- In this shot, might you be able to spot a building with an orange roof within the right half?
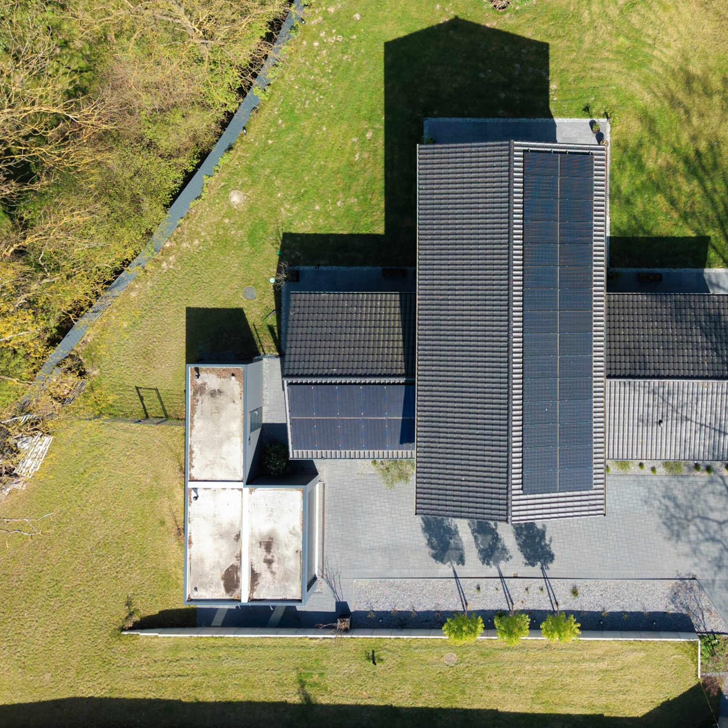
No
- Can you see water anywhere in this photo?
No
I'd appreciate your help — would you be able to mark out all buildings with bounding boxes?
[280,137,728,527]
[185,360,324,604]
